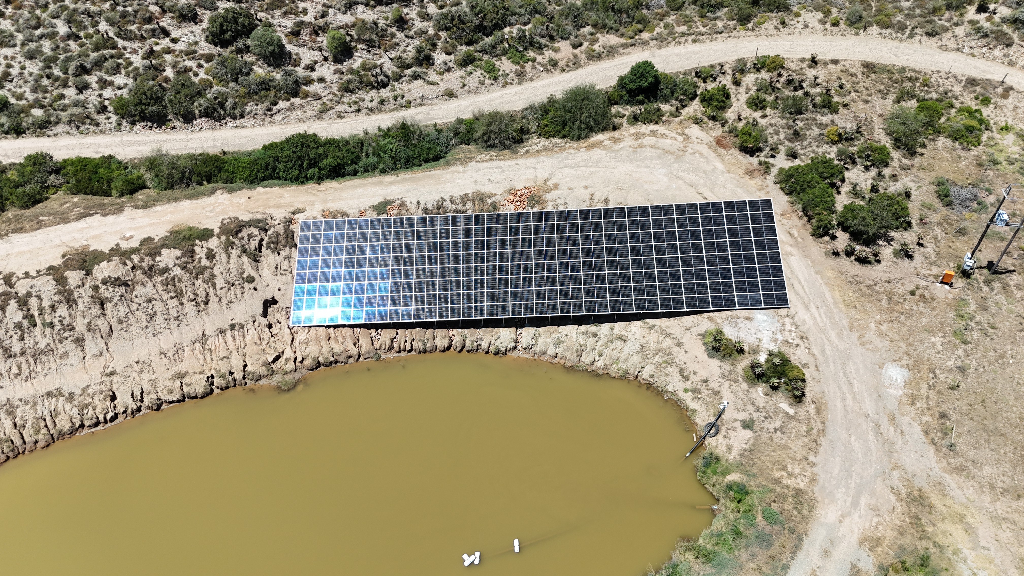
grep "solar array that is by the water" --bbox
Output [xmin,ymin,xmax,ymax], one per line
[291,199,789,332]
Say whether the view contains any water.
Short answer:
Yes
